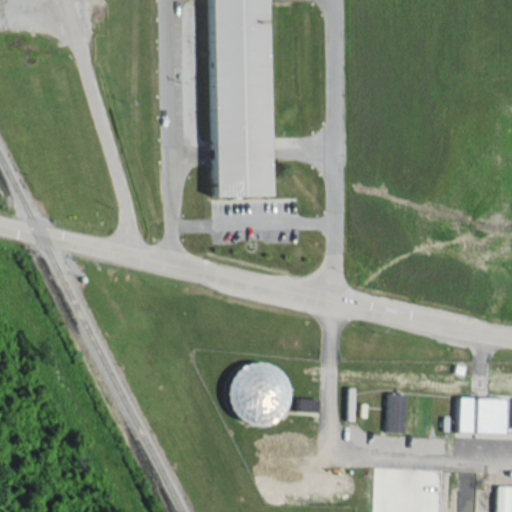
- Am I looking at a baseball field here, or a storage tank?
storage tank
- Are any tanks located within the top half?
No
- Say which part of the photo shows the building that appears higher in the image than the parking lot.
top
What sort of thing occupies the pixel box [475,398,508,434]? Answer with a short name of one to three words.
building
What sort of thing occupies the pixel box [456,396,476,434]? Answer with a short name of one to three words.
building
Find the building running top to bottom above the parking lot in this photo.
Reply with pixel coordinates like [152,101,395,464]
[207,0,276,203]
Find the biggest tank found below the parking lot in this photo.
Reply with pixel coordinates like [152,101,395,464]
[226,361,294,429]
